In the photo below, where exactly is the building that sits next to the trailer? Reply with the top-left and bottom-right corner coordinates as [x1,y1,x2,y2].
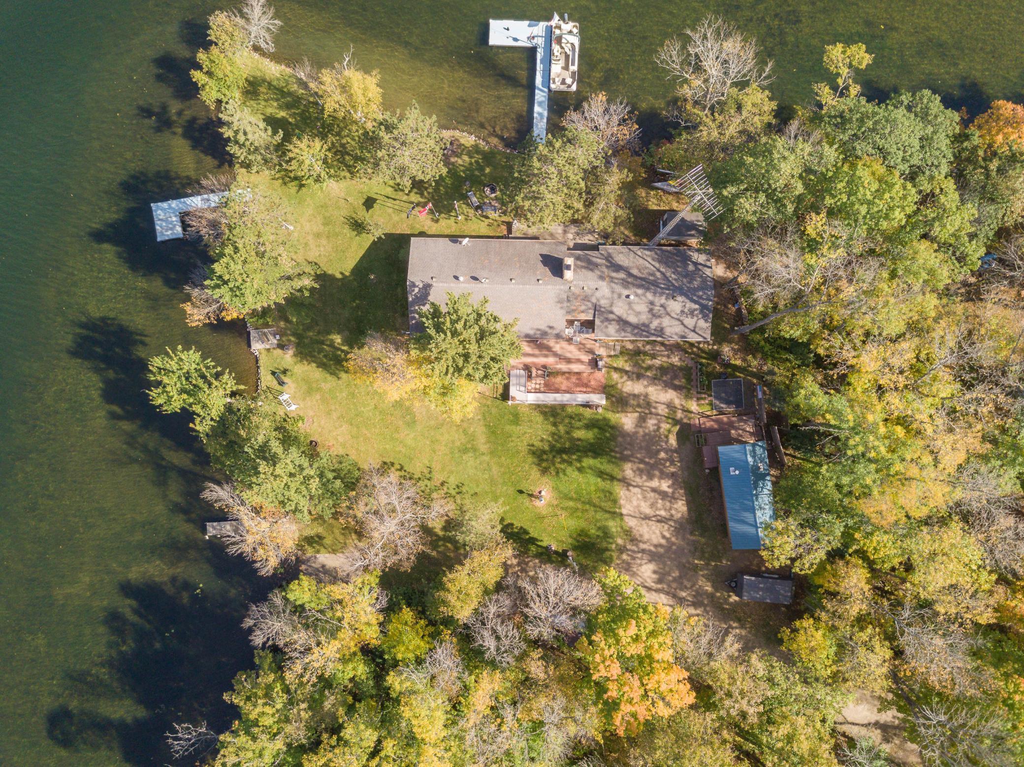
[716,440,780,550]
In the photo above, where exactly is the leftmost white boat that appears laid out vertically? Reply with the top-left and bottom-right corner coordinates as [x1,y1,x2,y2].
[549,11,580,94]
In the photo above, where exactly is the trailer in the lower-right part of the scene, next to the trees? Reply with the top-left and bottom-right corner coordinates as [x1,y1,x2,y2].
[725,571,795,606]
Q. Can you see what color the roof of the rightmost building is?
blue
